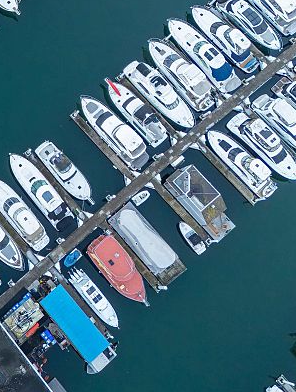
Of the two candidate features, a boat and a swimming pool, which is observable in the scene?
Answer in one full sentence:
The one in the frame is a boat.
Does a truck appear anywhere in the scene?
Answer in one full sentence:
No, the frame has no truck in it.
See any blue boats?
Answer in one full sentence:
Yes, the photo shows a blue boat.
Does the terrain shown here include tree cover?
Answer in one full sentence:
No, no tree cover is visible.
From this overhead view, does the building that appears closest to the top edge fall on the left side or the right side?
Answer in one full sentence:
The building that appears closest to the top edge is on the right side of the image.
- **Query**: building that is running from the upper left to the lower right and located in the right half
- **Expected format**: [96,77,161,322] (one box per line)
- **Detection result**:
[162,163,236,243]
